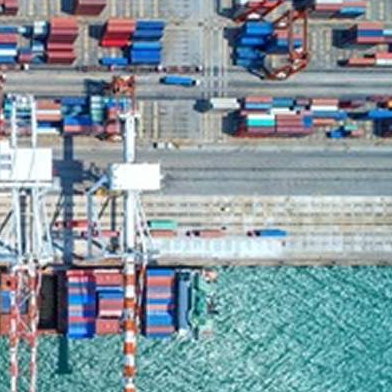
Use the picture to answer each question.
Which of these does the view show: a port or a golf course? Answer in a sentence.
The area seen from above is a port.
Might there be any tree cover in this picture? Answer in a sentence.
No, there's no tree cover in this view.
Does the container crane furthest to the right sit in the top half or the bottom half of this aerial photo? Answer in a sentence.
It is in the top half that the container crane furthest to the right appears.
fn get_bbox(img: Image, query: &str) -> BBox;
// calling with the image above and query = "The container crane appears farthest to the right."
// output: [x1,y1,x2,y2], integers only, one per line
[265,4,313,79]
